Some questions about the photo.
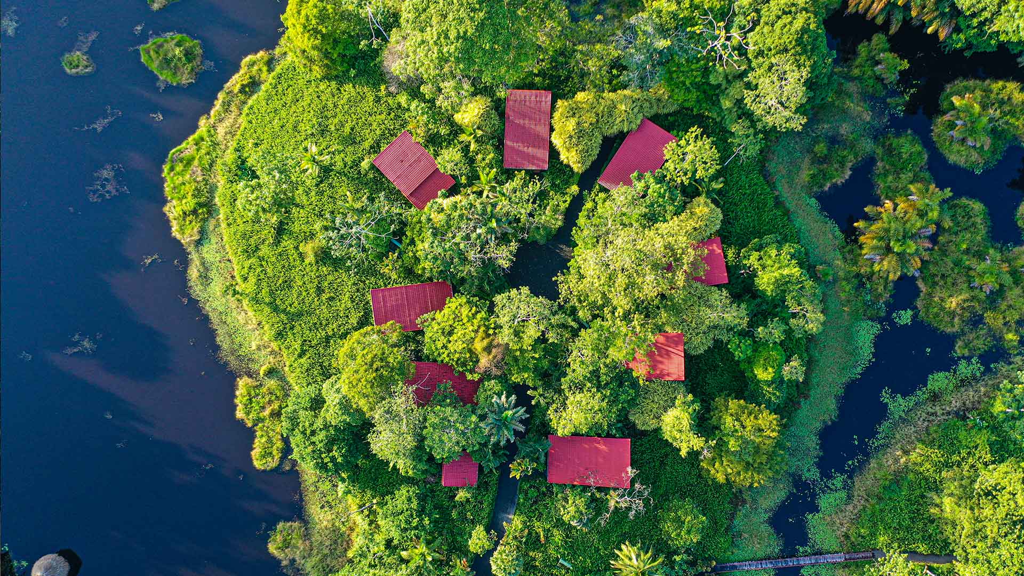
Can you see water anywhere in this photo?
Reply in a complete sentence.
Yes, there's water in this view.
